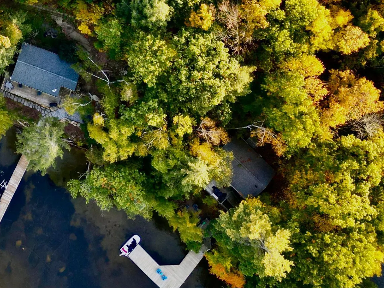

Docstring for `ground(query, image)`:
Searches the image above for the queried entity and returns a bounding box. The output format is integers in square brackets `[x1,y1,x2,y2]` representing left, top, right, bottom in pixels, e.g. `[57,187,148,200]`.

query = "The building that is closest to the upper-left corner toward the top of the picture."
[1,41,81,108]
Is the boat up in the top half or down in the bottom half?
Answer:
bottom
